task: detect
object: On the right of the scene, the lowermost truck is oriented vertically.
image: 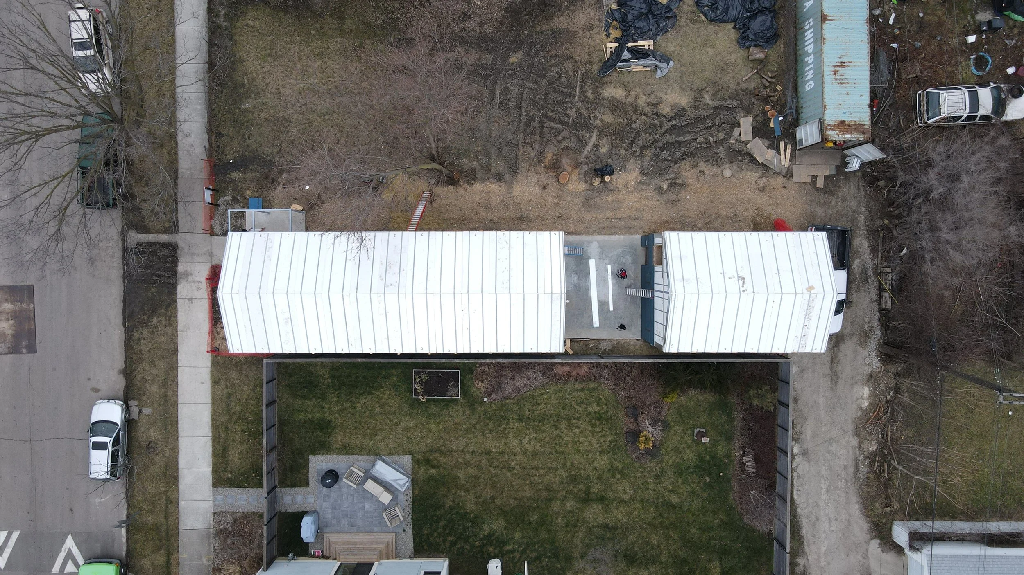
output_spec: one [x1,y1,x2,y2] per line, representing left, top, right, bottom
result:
[808,221,855,333]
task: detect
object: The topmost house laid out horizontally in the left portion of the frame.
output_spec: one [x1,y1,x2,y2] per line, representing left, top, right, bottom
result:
[217,231,566,354]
